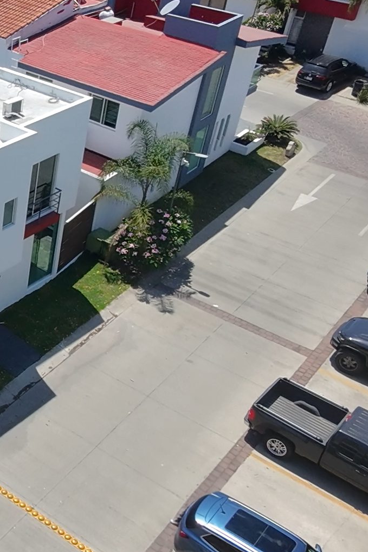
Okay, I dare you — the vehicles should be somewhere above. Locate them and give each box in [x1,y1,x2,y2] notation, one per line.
[299,55,351,93]
[324,320,368,373]
[169,488,311,552]
[246,383,368,498]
